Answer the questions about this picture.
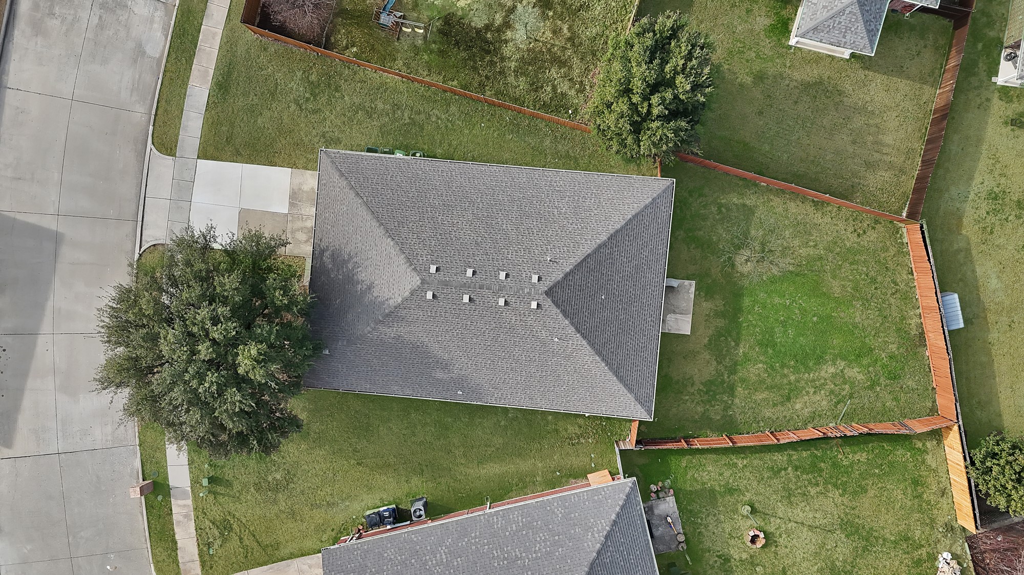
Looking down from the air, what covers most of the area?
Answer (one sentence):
The scene is dominated by grass.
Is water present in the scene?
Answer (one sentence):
No, the scene doesn't show any water.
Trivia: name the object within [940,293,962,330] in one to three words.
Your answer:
shed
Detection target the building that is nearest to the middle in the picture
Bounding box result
[295,146,678,422]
